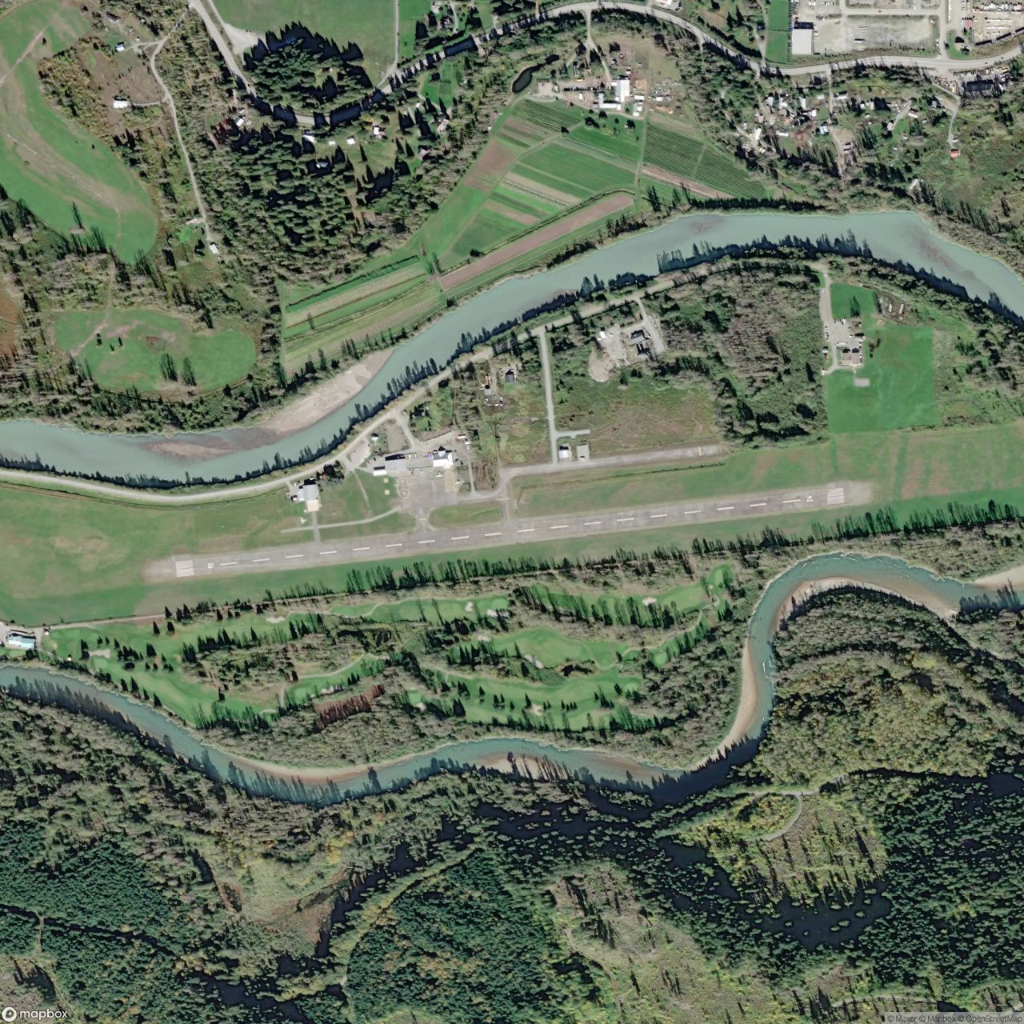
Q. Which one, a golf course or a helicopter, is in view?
golf course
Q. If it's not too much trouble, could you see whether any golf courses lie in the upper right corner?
No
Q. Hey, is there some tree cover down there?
Yes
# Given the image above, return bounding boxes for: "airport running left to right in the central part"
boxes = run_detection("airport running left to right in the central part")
[172,445,855,581]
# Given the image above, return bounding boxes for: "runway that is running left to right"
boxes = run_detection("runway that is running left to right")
[173,483,846,579]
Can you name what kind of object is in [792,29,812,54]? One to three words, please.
building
